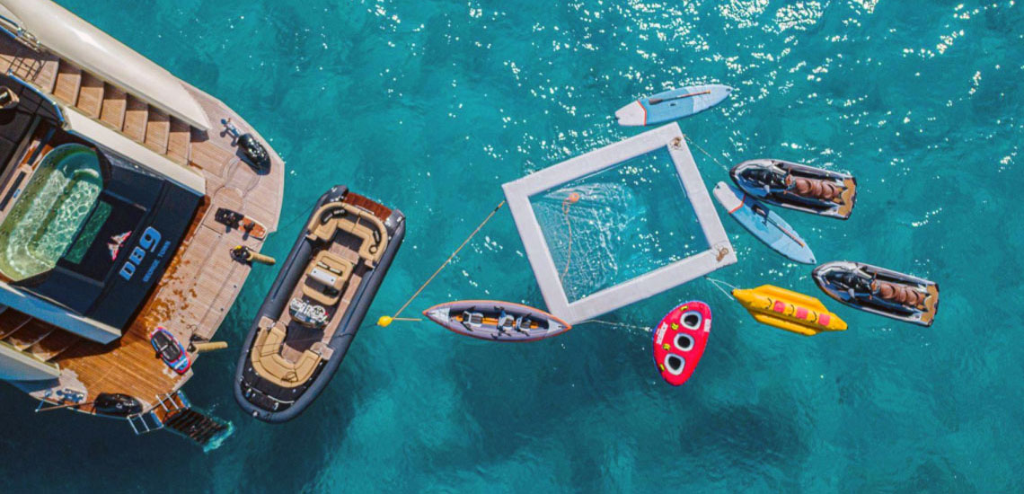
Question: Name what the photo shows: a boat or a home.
boat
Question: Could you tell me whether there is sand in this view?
No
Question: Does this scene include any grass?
No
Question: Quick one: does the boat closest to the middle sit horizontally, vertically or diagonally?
horizontally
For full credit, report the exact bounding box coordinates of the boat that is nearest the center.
[422,296,573,342]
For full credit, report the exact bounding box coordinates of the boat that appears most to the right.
[801,262,936,325]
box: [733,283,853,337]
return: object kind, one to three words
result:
boat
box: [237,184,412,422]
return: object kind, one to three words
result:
boat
